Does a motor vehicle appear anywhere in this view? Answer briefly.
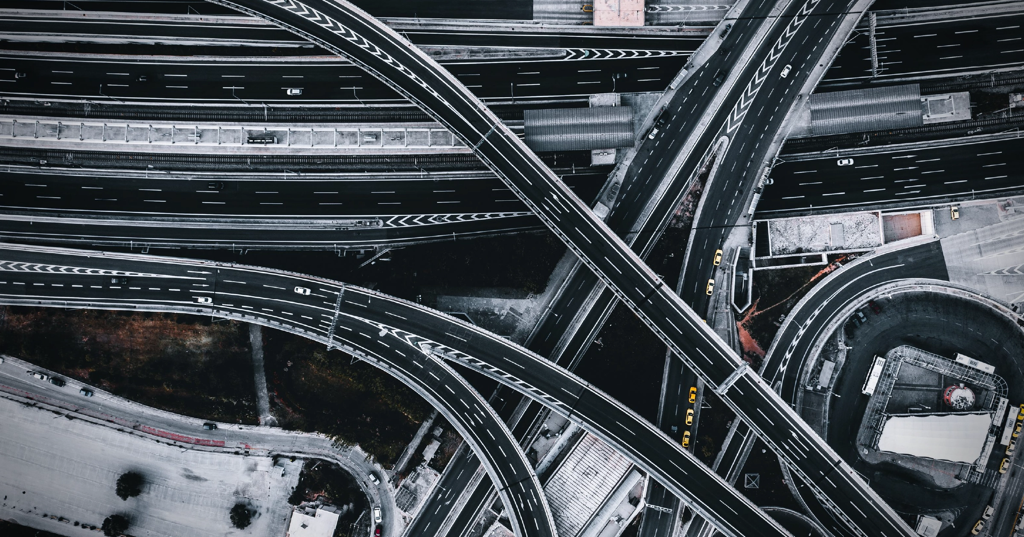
Yes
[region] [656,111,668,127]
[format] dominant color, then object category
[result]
black vehicle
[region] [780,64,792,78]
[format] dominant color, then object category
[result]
white vehicle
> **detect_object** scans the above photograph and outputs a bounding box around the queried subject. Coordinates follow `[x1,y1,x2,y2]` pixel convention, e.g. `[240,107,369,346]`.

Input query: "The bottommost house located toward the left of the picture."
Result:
[288,502,343,537]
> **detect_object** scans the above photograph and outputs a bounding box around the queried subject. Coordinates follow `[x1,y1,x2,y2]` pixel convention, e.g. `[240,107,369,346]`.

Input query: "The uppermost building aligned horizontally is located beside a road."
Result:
[587,92,620,107]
